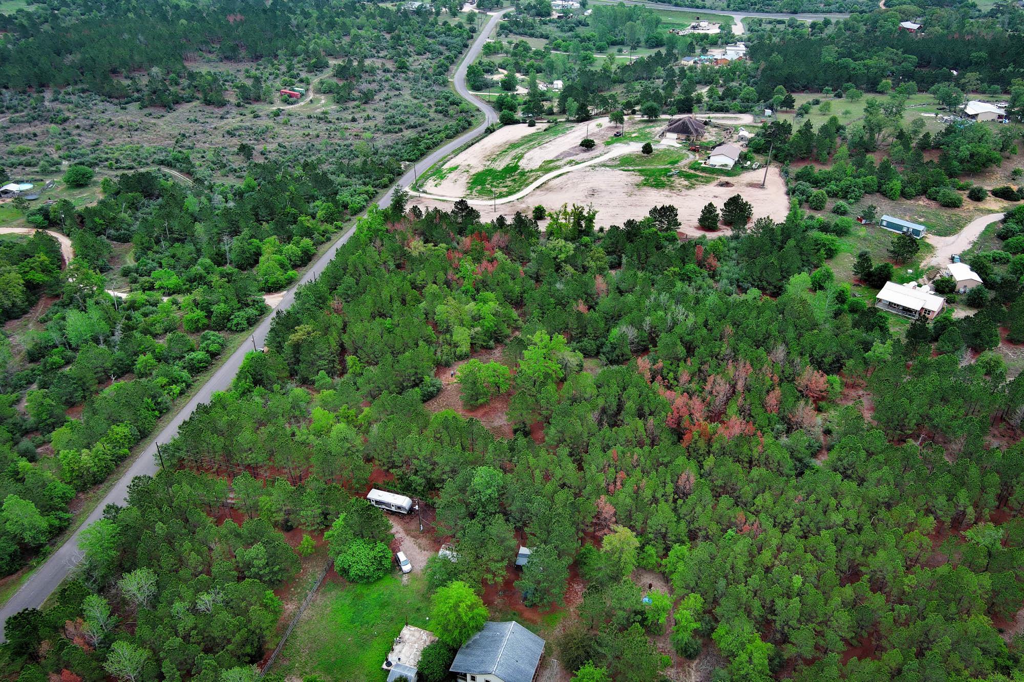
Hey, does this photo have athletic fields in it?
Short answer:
No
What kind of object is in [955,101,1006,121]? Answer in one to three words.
house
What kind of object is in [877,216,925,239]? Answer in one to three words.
house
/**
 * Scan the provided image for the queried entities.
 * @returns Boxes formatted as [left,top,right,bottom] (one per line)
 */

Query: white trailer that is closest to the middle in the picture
[367,489,417,517]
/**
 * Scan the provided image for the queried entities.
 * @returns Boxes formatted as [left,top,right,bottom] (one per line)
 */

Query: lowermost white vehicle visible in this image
[394,552,412,576]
